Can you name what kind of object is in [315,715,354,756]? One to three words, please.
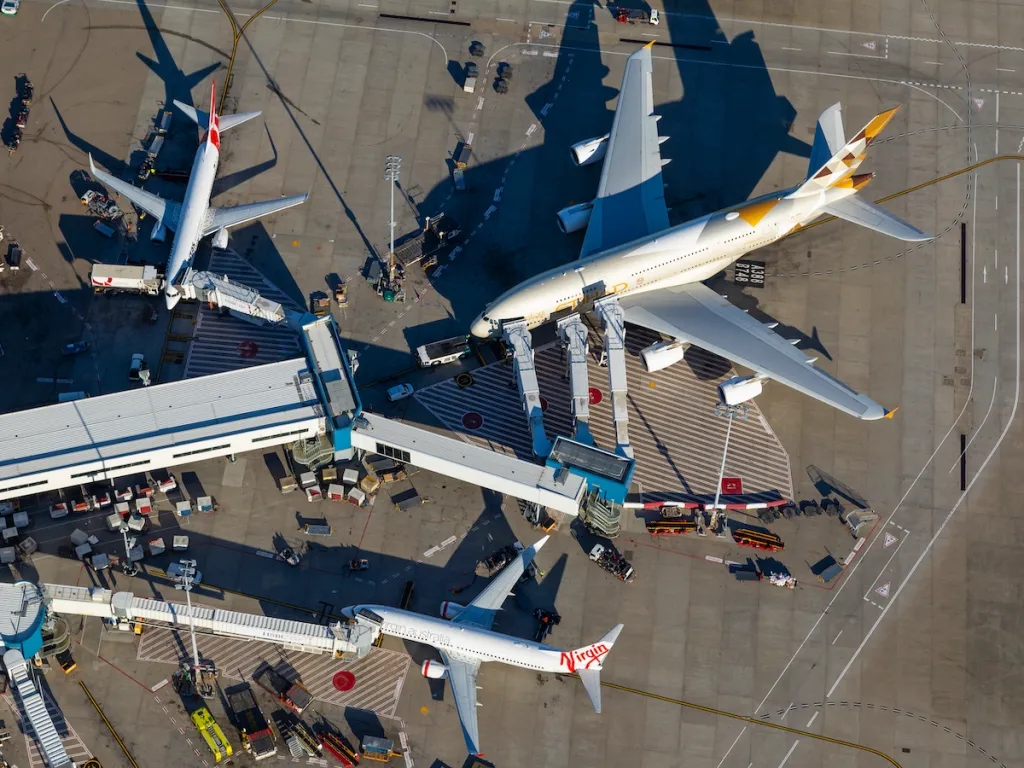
work vehicle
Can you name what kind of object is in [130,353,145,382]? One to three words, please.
vehicle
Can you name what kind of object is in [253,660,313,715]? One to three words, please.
work vehicle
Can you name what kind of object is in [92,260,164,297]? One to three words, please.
truck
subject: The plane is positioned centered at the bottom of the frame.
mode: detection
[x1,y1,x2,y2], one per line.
[342,537,625,756]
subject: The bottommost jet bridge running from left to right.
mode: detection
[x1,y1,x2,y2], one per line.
[128,599,383,662]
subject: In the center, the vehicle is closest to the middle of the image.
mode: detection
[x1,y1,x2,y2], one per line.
[413,333,473,370]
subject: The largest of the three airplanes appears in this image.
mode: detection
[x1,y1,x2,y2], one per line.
[470,42,934,420]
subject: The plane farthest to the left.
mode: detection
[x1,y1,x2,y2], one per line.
[89,83,311,309]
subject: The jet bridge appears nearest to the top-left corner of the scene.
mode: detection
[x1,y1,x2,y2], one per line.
[174,268,290,334]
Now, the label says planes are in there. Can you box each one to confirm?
[342,537,625,756]
[89,83,311,309]
[470,42,934,420]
